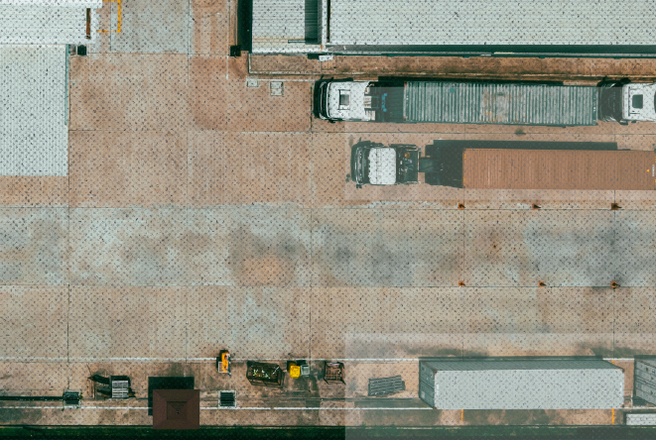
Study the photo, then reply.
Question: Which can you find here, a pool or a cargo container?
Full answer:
Of the two, only a cargo container appears.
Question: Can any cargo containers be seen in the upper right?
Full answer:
Yes, a cargo container appears in the upper right.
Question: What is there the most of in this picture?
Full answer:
The scene is dominated by paved ground.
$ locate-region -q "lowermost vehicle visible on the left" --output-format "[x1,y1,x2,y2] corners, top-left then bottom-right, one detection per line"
[216,349,231,376]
